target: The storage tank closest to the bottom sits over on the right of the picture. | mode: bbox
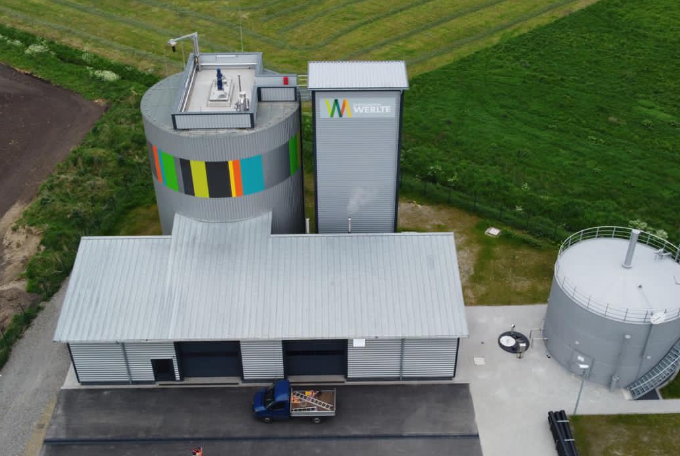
[542,226,680,391]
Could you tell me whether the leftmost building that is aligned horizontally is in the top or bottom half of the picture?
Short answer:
bottom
